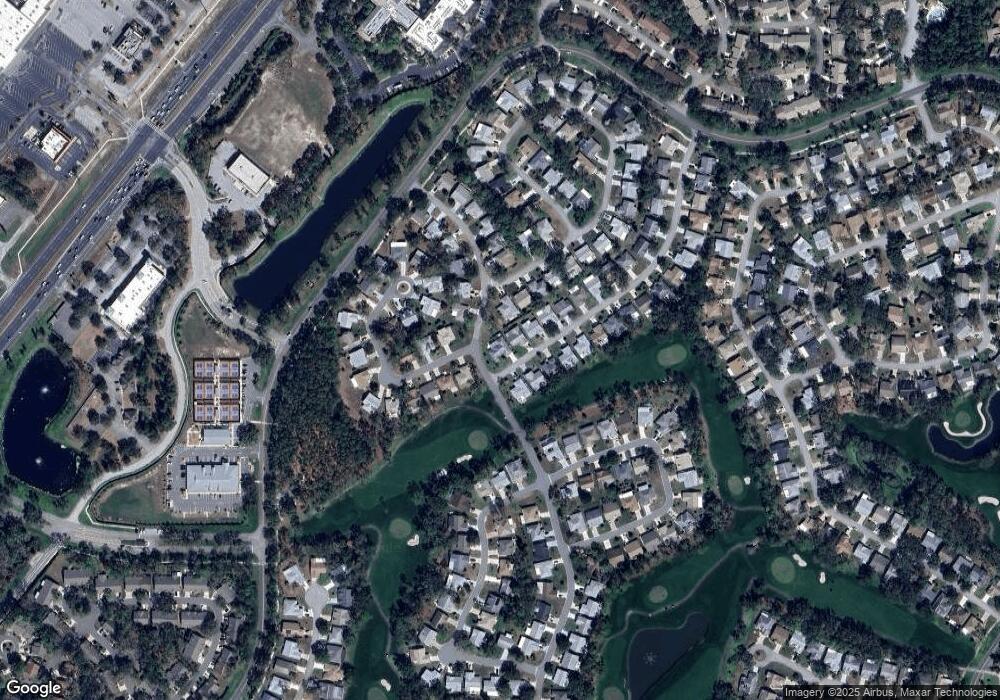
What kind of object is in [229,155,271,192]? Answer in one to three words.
building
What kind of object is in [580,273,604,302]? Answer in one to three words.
house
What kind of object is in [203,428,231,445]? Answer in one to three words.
building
